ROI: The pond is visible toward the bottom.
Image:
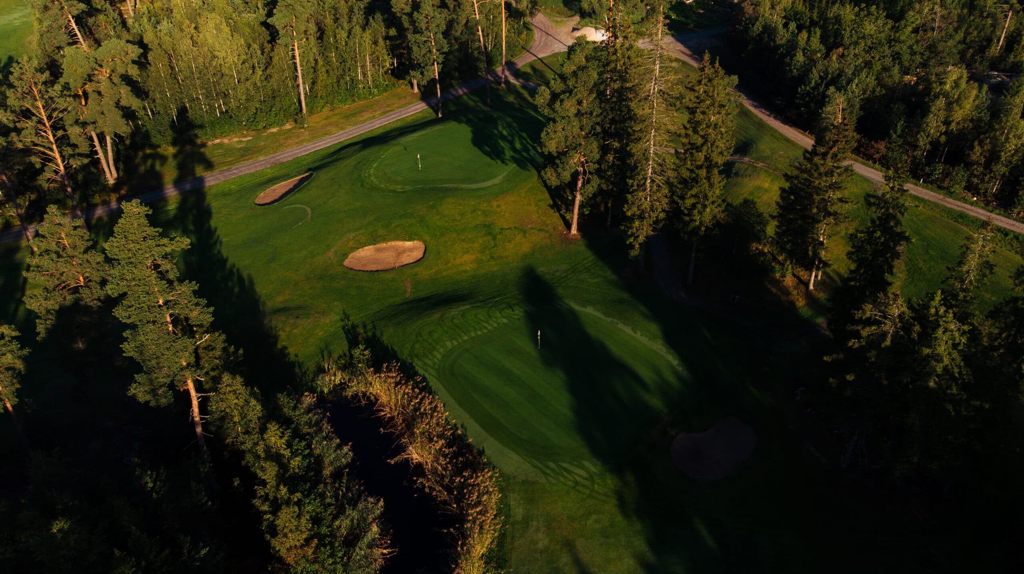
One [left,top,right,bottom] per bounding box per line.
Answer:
[318,391,462,574]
